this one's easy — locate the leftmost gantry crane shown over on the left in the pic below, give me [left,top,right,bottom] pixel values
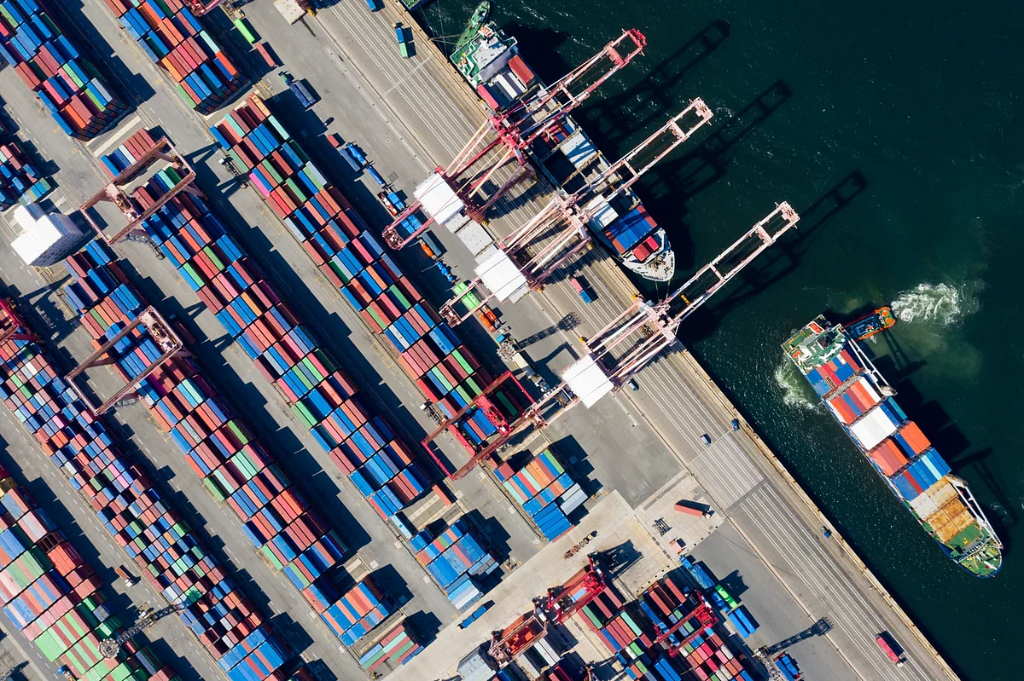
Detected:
[0,295,54,345]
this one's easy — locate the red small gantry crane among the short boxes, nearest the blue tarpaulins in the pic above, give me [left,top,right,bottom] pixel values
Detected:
[654,578,719,659]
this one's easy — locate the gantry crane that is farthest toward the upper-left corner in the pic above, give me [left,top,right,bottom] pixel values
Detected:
[78,133,216,248]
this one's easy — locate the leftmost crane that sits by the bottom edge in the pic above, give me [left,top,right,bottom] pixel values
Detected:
[485,592,552,674]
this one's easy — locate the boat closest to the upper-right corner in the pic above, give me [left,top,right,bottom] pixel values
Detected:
[842,311,893,342]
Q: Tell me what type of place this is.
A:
port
